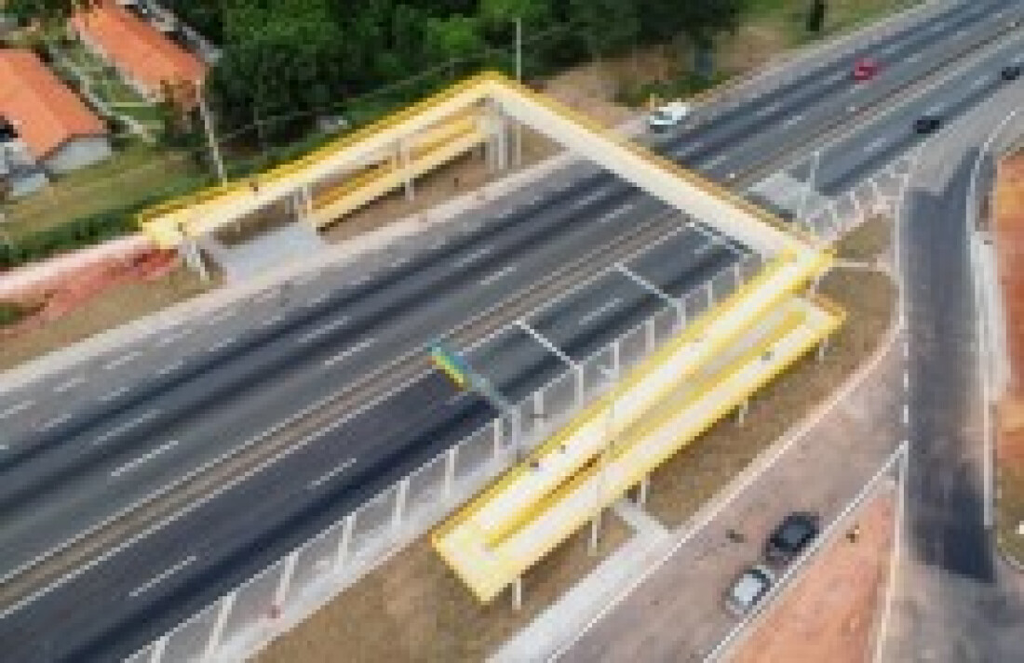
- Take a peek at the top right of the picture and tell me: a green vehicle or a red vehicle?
red vehicle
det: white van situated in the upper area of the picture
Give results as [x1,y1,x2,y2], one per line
[647,96,687,126]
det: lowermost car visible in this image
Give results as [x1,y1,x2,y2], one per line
[714,554,775,612]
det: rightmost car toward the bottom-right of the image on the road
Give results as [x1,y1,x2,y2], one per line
[758,507,819,564]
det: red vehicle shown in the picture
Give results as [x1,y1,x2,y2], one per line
[850,57,878,77]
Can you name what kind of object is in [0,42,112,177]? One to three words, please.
house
